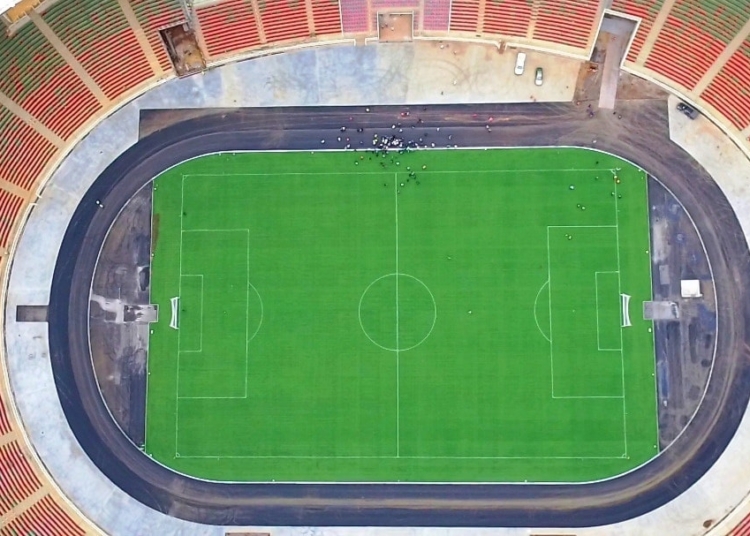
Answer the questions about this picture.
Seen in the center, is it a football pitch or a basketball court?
football pitch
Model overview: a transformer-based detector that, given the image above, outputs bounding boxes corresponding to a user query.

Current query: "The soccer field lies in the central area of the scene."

[145,148,659,482]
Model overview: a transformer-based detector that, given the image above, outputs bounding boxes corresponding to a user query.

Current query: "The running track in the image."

[49,107,750,528]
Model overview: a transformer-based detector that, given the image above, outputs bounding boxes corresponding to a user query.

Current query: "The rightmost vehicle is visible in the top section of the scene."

[675,103,699,121]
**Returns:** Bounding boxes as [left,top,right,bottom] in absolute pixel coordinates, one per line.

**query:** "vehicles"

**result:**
[534,67,543,85]
[514,52,525,75]
[675,103,699,121]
